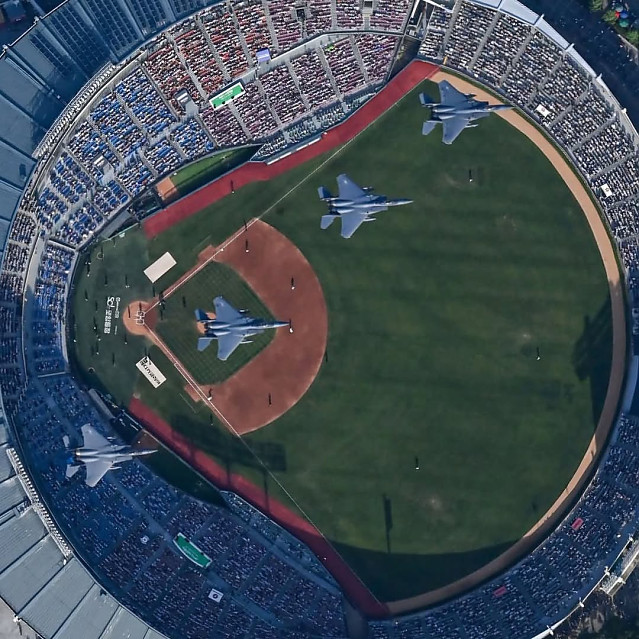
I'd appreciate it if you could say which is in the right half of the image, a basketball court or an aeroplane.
aeroplane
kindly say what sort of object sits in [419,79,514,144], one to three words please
airplane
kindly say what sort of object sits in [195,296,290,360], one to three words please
airplane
